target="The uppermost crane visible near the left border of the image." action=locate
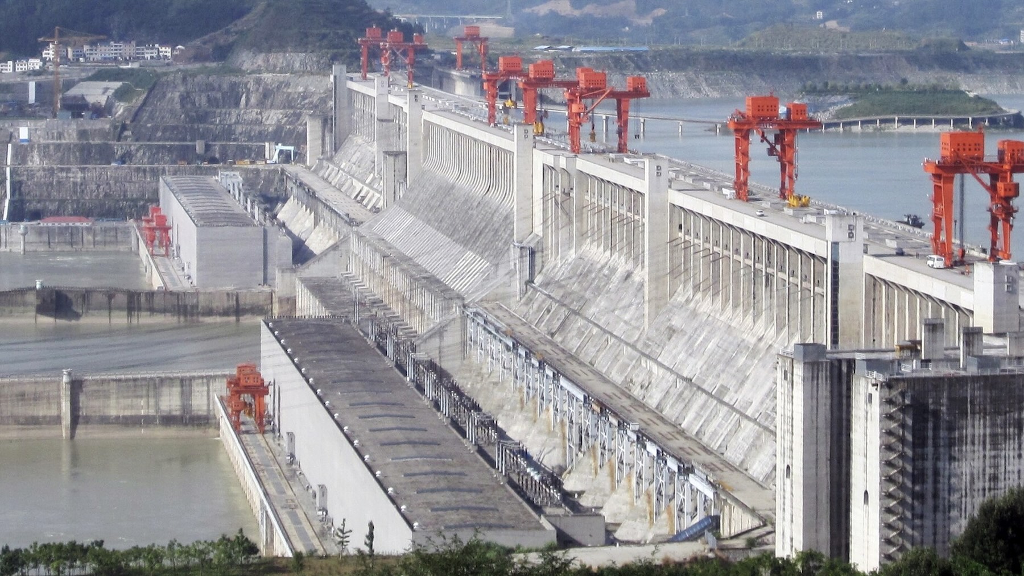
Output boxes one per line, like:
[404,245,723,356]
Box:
[38,27,106,114]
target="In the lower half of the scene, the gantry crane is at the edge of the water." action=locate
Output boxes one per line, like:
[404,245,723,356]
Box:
[234,361,277,432]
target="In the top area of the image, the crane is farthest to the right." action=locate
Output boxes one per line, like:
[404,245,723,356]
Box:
[919,129,1024,265]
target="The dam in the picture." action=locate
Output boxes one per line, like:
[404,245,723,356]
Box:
[278,73,1024,575]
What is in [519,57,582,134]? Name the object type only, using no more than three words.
container crane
